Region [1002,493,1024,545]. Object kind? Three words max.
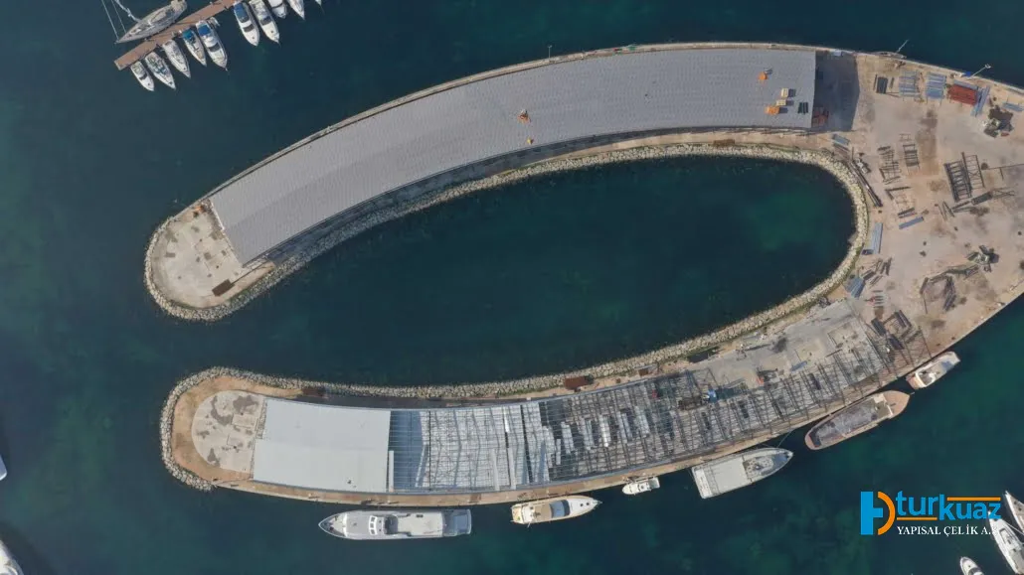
boat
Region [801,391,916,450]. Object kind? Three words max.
vessel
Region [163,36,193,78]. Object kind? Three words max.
boat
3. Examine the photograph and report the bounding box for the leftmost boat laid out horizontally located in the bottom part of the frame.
[319,508,472,540]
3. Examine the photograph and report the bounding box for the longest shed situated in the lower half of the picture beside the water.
[253,336,882,496]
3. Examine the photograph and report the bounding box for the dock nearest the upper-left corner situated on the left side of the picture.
[114,0,250,71]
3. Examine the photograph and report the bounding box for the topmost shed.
[209,45,815,269]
